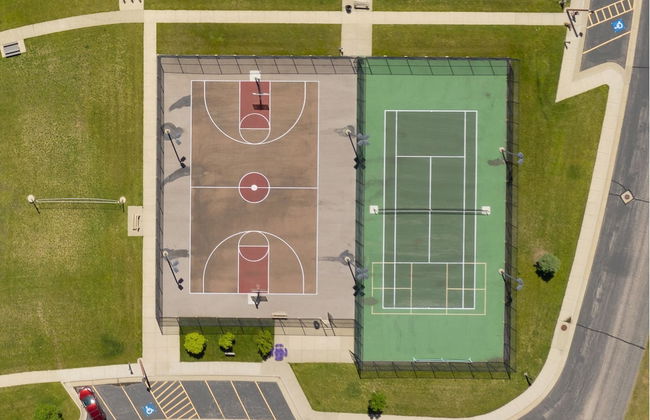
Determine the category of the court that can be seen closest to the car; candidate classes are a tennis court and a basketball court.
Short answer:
basketball court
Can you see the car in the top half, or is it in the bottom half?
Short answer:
bottom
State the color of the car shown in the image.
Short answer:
red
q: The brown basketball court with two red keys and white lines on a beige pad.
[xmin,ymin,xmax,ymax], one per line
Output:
[156,58,357,319]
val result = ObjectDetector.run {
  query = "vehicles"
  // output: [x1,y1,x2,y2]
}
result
[79,385,107,420]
